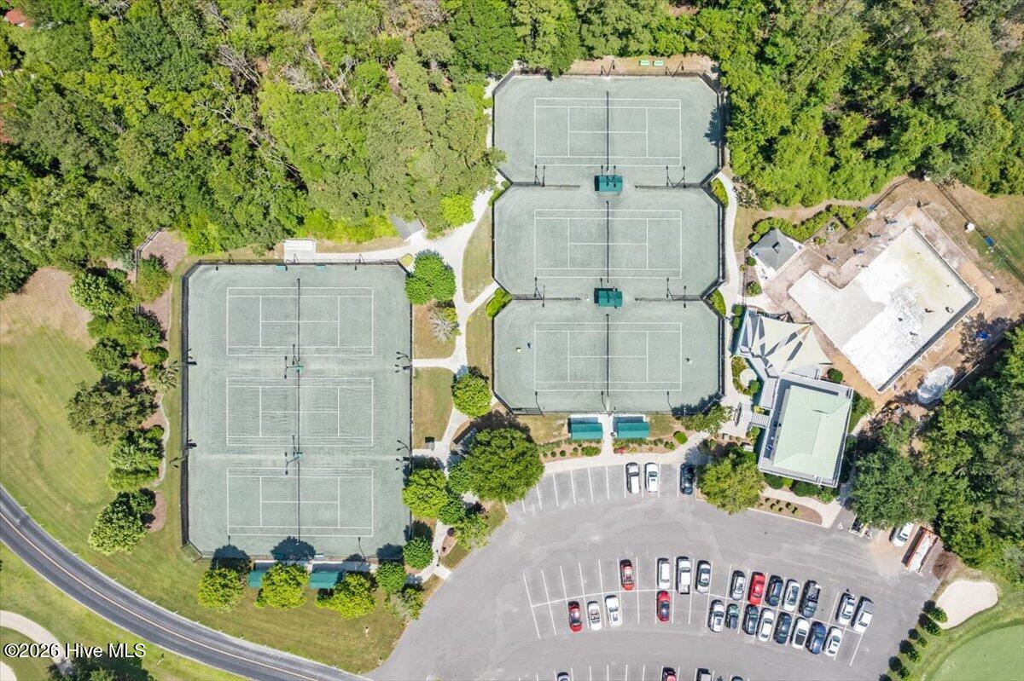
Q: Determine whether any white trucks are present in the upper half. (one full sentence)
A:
No, the scene shows no white truck in the upper half.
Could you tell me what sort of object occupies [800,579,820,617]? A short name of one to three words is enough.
vehicle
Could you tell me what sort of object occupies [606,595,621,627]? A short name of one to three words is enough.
car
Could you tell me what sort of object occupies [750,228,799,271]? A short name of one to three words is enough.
building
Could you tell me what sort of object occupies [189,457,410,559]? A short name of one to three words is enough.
tennis court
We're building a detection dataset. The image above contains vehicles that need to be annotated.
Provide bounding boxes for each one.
[725,603,740,630]
[800,579,820,617]
[782,579,799,610]
[568,602,582,630]
[676,557,692,595]
[823,625,841,657]
[679,464,694,494]
[836,593,855,624]
[621,559,636,590]
[645,462,659,493]
[890,519,916,548]
[708,600,725,632]
[606,595,621,627]
[625,462,640,495]
[587,601,601,631]
[757,608,774,640]
[748,572,765,604]
[558,674,570,681]
[807,622,827,653]
[657,557,671,589]
[695,561,710,591]
[851,596,876,634]
[774,612,792,644]
[791,619,808,647]
[730,571,745,598]
[697,671,712,681]
[657,590,671,621]
[741,604,759,636]
[766,575,784,606]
